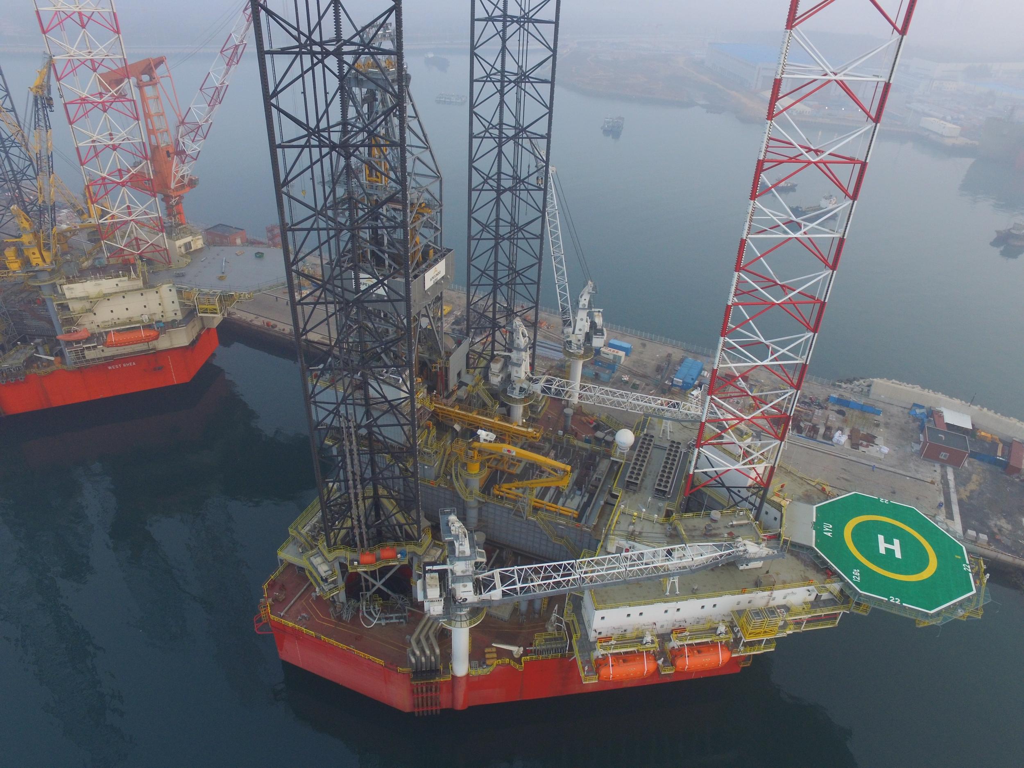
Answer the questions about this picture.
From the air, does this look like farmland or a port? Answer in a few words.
port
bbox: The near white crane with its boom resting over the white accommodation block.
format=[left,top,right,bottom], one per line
[408,512,794,686]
